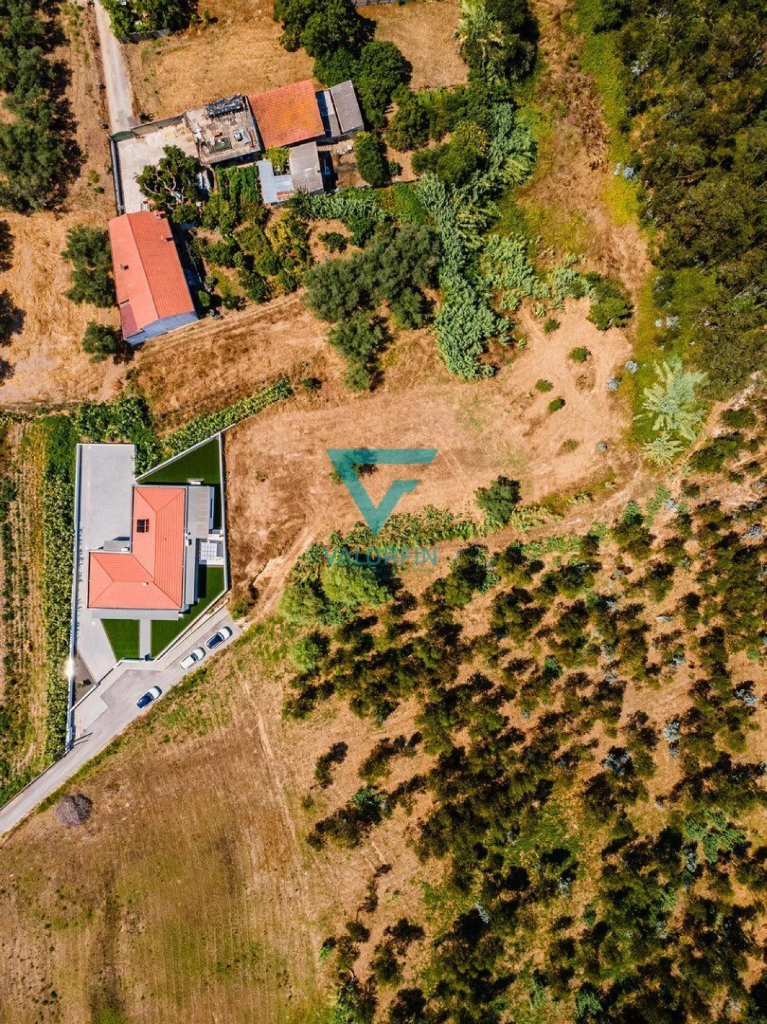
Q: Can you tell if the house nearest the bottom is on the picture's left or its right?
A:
left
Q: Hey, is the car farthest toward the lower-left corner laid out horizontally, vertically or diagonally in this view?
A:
diagonally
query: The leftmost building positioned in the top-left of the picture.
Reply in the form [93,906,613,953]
[109,212,201,337]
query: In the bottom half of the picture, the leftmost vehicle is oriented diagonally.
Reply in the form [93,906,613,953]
[135,686,163,708]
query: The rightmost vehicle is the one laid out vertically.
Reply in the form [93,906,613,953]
[320,157,335,186]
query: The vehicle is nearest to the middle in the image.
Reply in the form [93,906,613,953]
[206,626,232,649]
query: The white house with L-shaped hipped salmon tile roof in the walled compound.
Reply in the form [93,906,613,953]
[87,484,214,620]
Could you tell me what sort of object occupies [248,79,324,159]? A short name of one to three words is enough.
building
